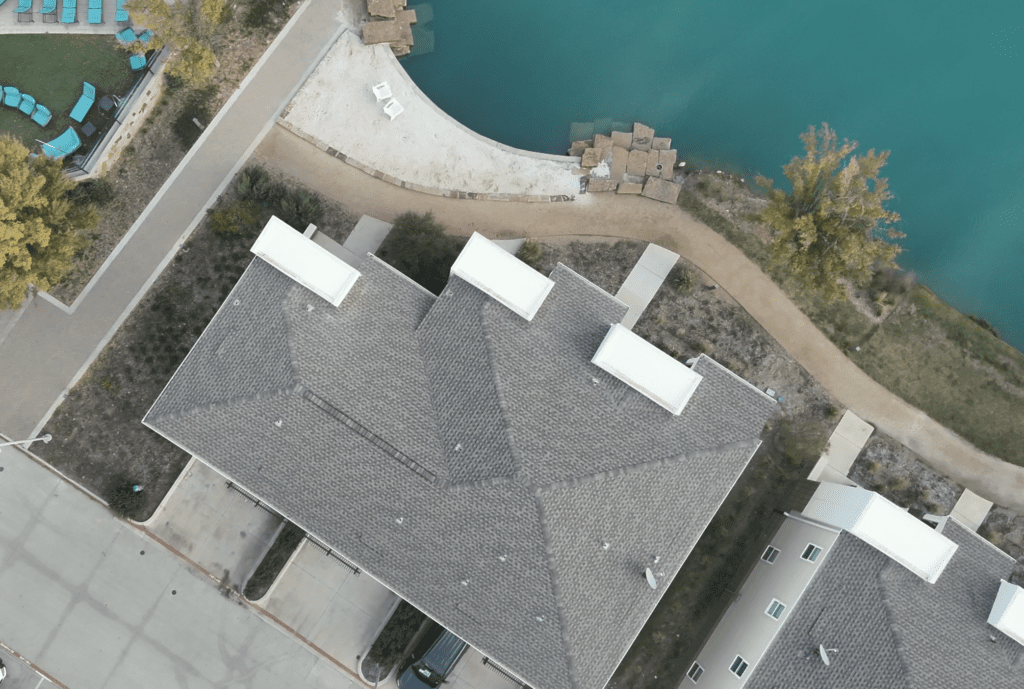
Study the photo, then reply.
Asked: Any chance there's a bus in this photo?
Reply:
No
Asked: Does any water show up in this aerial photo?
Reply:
Yes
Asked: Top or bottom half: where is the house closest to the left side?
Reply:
bottom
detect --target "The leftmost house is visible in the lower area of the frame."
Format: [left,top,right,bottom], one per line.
[142,214,776,689]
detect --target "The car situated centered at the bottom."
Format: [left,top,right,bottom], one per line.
[399,624,471,689]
